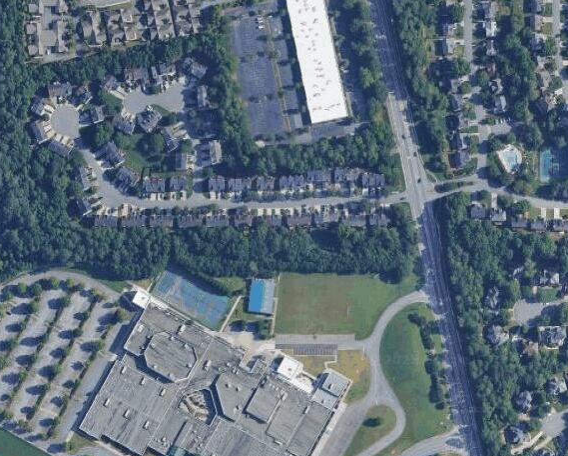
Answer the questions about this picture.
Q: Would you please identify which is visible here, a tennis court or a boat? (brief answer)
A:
tennis court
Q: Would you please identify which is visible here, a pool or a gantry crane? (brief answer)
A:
pool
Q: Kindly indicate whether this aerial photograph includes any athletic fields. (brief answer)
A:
Yes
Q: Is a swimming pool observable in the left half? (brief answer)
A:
No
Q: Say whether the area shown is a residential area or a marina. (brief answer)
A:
residential area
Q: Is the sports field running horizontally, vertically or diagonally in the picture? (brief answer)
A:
horizontally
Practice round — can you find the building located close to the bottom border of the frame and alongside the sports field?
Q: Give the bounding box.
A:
[80,291,351,456]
